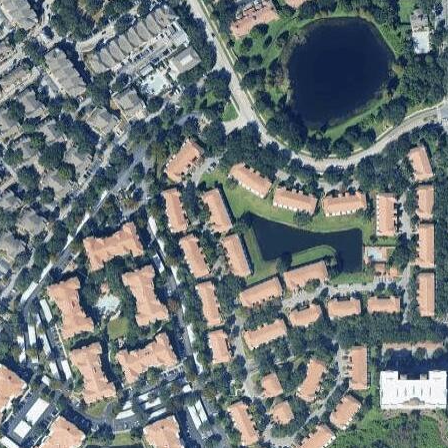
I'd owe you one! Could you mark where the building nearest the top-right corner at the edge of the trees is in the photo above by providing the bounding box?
[410,11,431,32]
